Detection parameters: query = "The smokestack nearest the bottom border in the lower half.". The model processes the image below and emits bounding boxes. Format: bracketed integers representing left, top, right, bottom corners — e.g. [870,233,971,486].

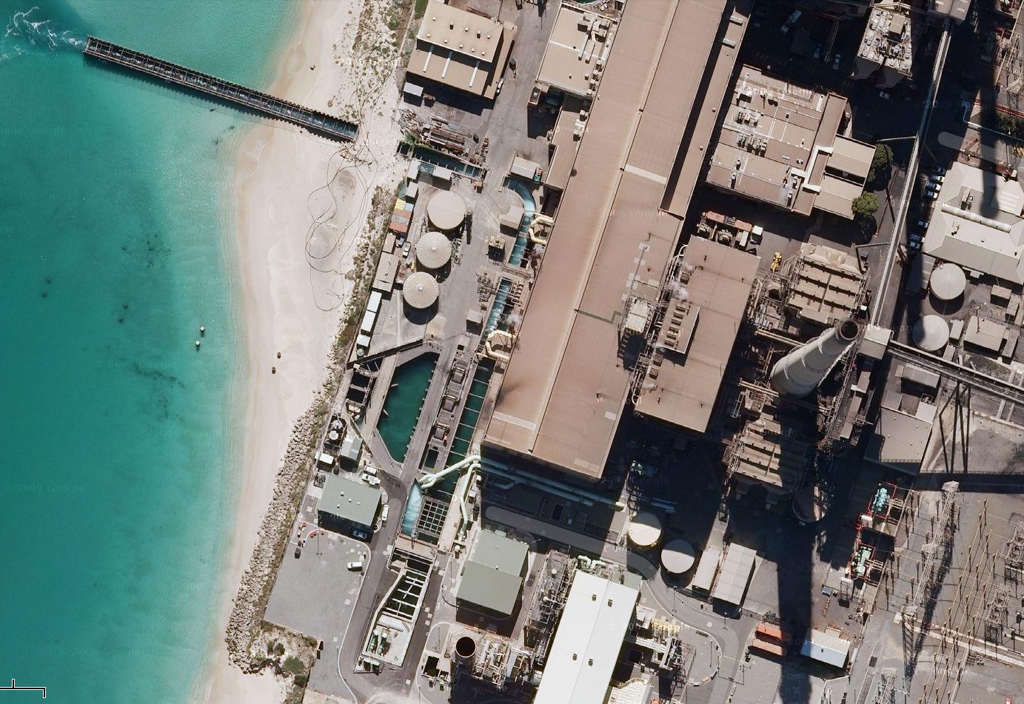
[454,636,477,660]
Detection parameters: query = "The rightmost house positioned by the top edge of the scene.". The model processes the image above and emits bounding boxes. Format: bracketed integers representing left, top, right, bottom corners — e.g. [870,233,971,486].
[917,0,972,44]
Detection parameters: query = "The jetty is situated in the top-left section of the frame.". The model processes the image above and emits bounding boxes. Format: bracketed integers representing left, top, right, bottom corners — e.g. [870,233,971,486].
[82,35,360,141]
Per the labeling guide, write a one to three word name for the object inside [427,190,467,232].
storage tank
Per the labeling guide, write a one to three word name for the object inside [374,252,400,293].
building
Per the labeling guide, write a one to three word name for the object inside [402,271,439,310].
storage tank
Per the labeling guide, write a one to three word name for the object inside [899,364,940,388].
shed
